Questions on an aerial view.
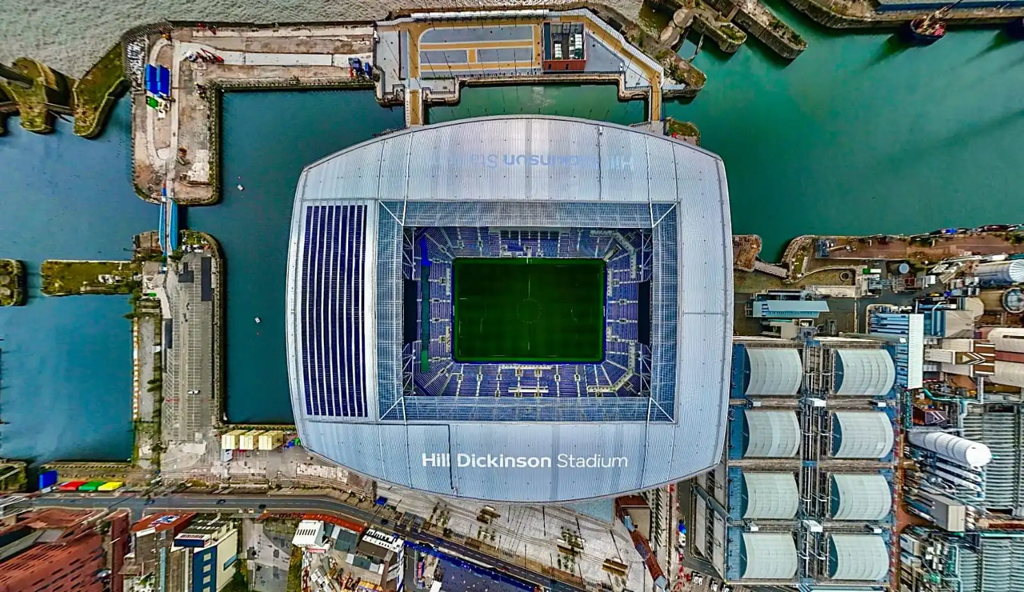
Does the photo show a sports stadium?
Yes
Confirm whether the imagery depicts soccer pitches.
Yes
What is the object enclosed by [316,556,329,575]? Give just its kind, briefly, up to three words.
vehicle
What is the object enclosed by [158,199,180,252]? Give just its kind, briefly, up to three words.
bridge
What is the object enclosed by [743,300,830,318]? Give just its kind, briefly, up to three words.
shed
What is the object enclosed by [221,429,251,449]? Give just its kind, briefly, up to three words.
building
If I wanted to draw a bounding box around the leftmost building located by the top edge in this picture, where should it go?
[542,19,587,70]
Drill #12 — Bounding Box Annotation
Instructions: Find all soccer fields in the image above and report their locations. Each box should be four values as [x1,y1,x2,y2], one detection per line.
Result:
[451,259,606,365]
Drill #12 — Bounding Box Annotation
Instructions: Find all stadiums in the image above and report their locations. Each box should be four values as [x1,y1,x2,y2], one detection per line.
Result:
[286,115,733,504]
